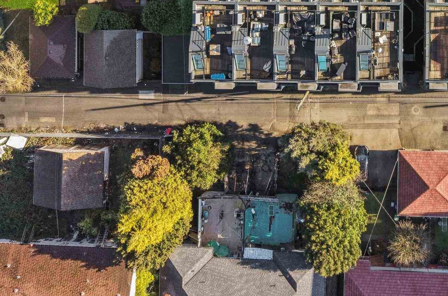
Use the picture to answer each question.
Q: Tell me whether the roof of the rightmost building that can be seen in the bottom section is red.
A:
Yes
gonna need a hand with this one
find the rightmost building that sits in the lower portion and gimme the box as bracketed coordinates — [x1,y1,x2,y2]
[397,146,448,218]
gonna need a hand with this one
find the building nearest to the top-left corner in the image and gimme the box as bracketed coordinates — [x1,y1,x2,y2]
[29,16,84,78]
